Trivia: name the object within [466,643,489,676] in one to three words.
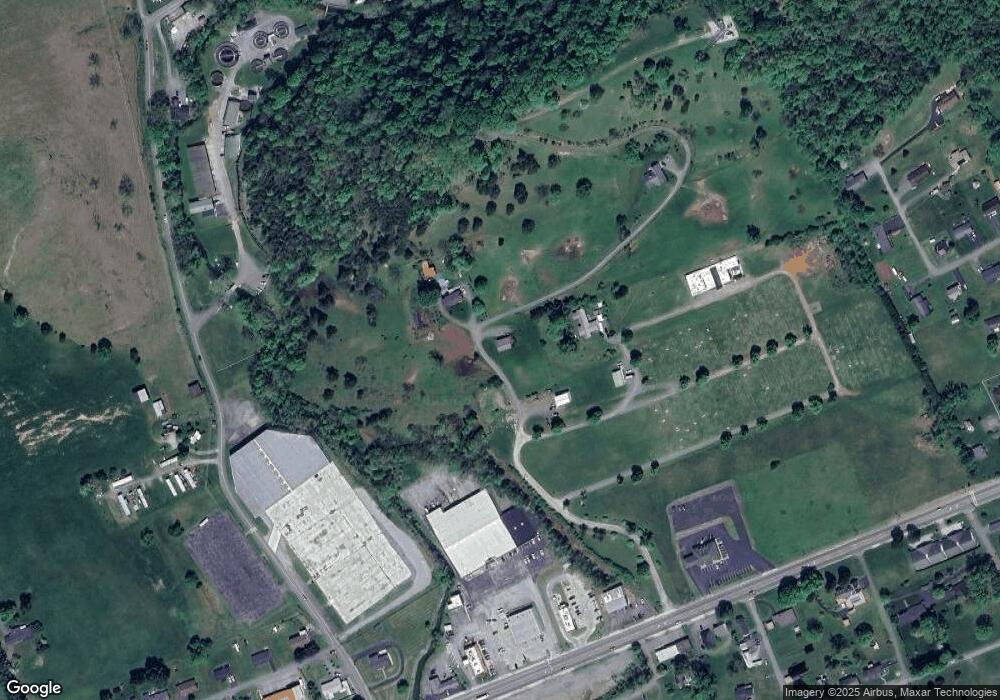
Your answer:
building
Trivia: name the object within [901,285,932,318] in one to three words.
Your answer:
house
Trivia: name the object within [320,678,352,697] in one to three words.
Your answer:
house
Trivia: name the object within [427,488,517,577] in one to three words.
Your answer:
building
